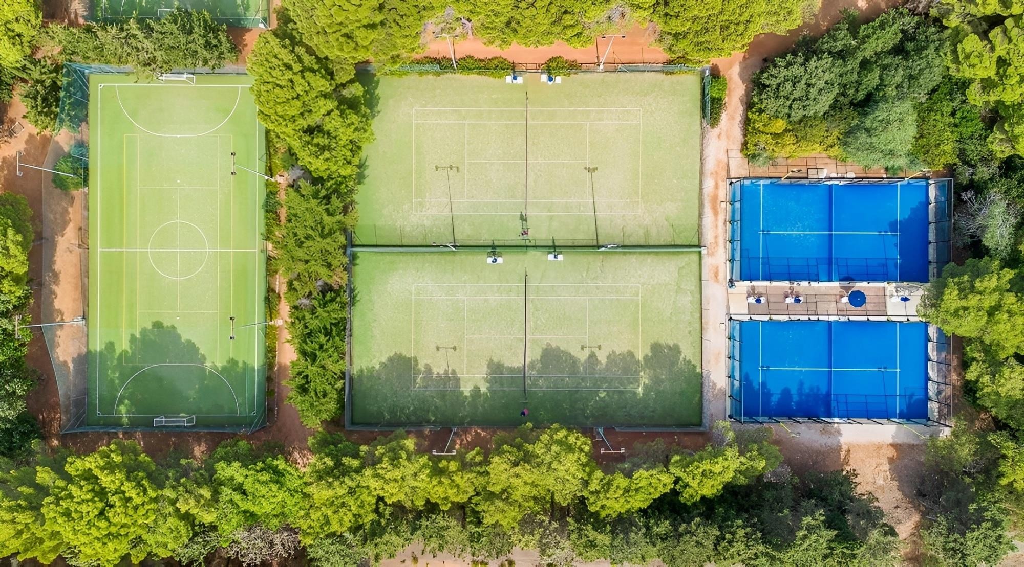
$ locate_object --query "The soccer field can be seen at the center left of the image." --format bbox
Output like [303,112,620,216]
[86,74,267,427]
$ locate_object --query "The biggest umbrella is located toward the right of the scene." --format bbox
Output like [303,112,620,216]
[846,290,866,307]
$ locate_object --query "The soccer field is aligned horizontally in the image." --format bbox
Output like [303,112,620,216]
[93,0,269,24]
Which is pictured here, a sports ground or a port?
sports ground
